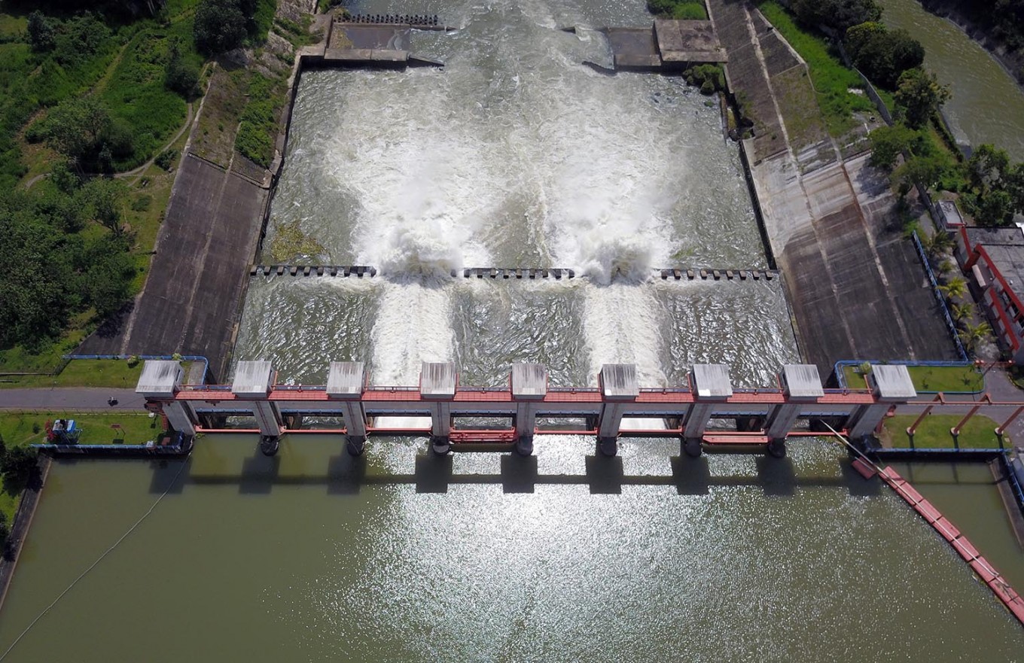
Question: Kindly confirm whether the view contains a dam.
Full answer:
Yes, there's a dam here.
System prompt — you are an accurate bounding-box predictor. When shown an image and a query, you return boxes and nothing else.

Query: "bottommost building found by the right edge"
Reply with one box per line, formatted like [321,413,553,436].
[958,225,1024,363]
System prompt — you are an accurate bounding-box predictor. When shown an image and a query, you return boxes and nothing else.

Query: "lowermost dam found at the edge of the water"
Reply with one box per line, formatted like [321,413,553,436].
[46,357,992,459]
